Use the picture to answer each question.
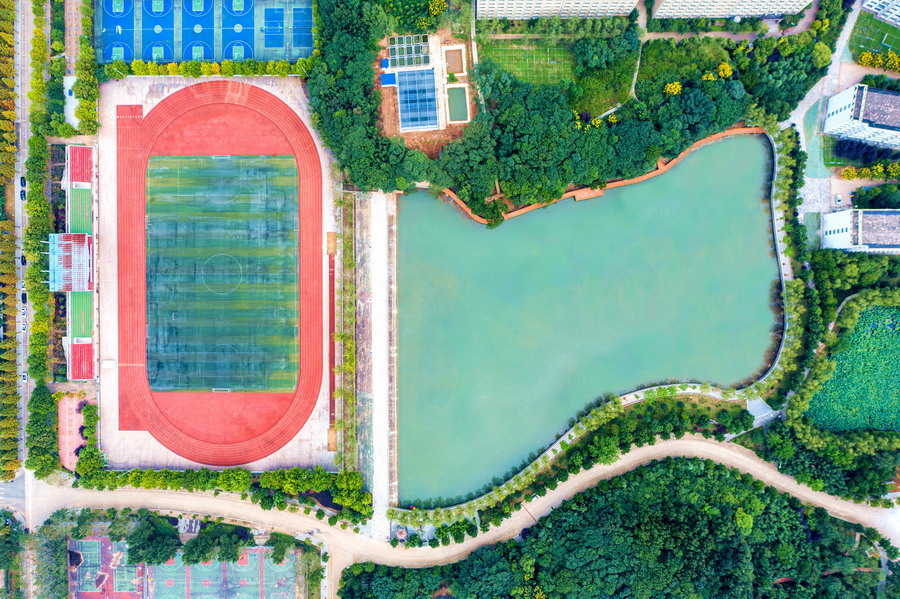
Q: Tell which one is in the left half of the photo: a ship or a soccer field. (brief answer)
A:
soccer field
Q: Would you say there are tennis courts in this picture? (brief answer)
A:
Yes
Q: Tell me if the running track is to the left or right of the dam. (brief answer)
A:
to the left of it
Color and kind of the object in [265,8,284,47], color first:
blue sports court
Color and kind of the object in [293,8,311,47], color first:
blue sports court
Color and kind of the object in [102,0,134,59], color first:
blue basketball court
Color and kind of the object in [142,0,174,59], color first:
blue basketball court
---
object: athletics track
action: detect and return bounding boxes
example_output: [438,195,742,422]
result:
[112,81,322,466]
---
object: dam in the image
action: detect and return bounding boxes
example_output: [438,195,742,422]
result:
[356,192,395,541]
